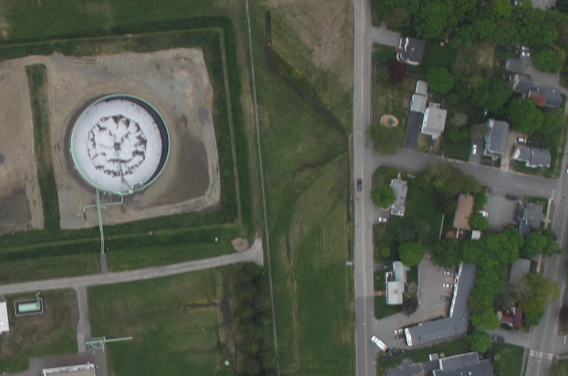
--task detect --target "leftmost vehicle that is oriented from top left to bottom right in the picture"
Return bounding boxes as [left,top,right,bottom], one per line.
[371,336,388,351]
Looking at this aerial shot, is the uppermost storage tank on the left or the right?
left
